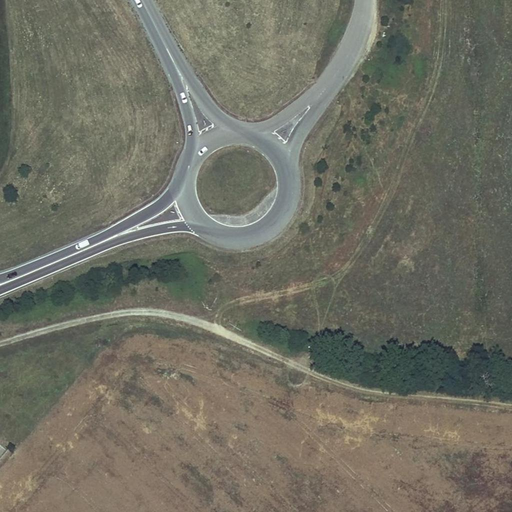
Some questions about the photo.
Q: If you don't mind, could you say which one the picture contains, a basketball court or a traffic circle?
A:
traffic circle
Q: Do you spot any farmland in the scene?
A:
Yes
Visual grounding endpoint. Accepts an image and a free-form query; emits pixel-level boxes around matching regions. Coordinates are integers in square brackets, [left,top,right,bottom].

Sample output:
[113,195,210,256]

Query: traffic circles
[169,120,301,250]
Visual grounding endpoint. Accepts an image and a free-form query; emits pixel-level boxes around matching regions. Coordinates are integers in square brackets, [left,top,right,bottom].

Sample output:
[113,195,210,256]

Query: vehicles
[135,0,142,8]
[187,125,192,136]
[6,272,17,278]
[180,92,186,103]
[198,146,208,156]
[76,240,90,250]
